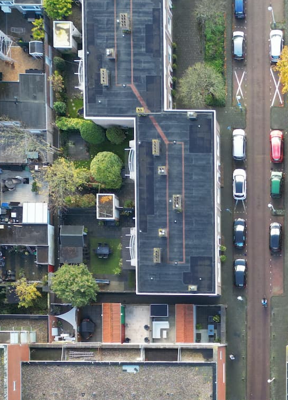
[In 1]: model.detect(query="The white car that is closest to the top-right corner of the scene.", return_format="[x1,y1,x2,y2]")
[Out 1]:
[268,29,285,64]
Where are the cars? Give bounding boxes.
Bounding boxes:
[268,29,285,64]
[235,0,246,21]
[230,31,246,61]
[269,172,284,198]
[231,218,247,250]
[231,169,248,201]
[268,222,284,253]
[232,259,248,290]
[230,129,247,160]
[268,130,285,163]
